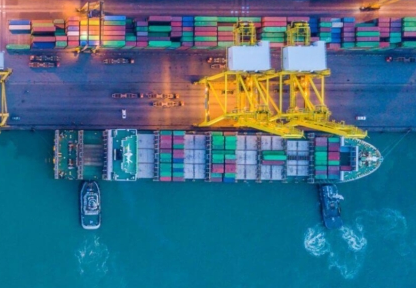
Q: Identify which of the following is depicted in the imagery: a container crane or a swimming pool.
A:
container crane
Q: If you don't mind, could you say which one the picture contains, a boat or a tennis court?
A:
boat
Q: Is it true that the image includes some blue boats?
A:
Yes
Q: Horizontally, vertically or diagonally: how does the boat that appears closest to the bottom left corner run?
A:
vertically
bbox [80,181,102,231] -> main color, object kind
blue boat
